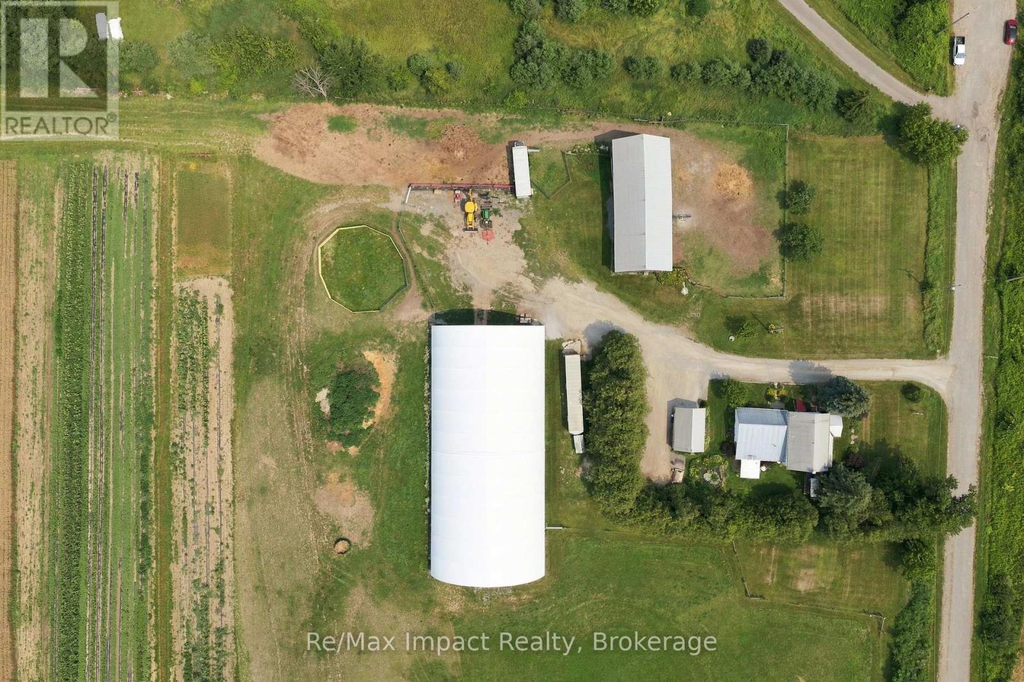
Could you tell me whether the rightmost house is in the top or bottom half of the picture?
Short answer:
bottom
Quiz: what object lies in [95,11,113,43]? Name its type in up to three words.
shed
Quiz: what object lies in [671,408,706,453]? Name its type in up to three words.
building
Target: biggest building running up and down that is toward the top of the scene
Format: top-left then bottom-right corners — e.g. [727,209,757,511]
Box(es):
[610,133,673,277]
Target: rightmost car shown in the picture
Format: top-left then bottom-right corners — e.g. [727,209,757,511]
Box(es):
[1002,19,1017,45]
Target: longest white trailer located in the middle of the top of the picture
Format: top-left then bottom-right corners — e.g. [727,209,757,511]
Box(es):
[513,142,537,200]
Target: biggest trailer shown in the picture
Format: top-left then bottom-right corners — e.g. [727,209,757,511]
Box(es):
[564,354,584,437]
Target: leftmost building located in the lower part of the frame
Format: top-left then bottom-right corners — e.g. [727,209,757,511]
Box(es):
[431,324,546,588]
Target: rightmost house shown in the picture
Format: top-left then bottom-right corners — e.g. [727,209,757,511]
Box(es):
[733,408,842,479]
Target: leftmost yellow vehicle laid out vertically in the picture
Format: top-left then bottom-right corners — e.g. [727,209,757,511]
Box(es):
[463,188,478,232]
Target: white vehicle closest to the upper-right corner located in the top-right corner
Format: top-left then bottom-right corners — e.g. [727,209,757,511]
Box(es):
[952,35,967,67]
